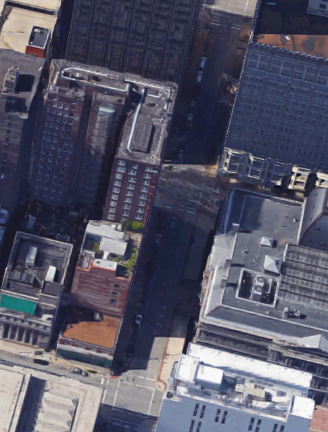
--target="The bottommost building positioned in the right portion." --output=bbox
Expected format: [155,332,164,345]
[157,342,320,432]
